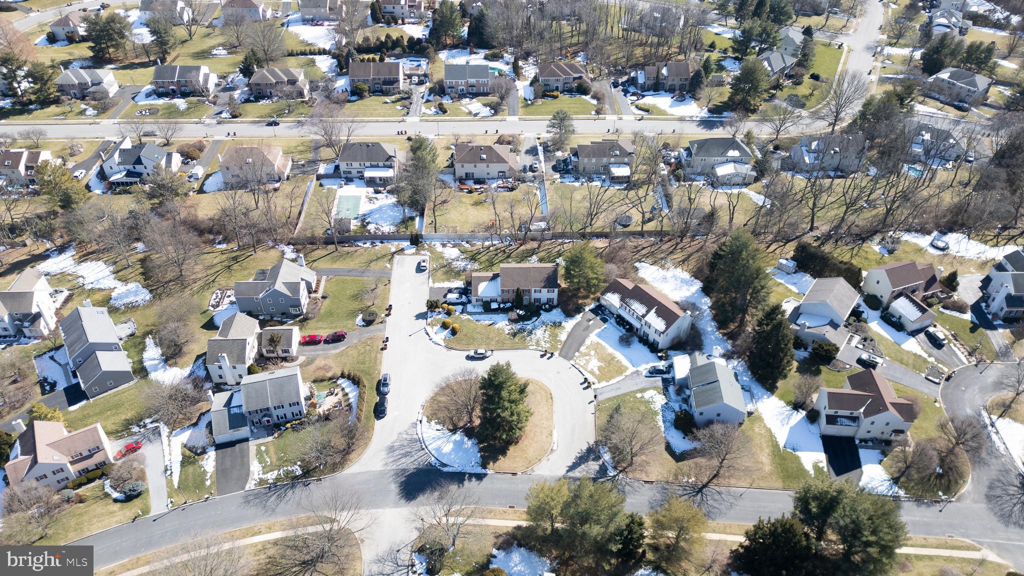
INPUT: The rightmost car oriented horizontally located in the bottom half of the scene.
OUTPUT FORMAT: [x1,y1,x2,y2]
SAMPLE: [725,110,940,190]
[860,354,884,367]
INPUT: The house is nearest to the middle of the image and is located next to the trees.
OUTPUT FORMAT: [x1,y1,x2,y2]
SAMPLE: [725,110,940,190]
[464,259,562,306]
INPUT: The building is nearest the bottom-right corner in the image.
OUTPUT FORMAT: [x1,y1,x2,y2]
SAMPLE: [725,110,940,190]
[815,366,916,441]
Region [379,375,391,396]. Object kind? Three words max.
vehicle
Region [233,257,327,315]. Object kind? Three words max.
house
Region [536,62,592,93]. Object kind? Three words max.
house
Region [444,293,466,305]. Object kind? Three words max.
vehicle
